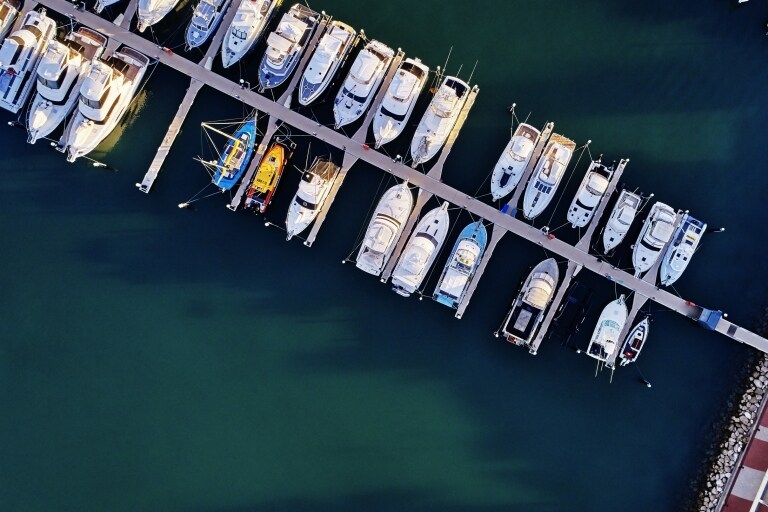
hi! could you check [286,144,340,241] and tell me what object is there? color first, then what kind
white boat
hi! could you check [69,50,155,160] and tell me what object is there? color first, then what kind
white boat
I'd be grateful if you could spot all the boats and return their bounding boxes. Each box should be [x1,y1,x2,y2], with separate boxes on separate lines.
[490,113,542,201]
[413,49,478,169]
[623,202,676,277]
[300,21,358,104]
[374,58,430,149]
[69,50,155,160]
[30,25,110,142]
[195,112,258,196]
[620,318,649,365]
[97,0,124,15]
[286,144,340,241]
[585,295,625,384]
[334,40,394,129]
[223,0,282,68]
[433,217,486,307]
[258,3,322,91]
[184,0,233,52]
[525,133,578,218]
[0,10,51,115]
[354,178,411,275]
[502,259,556,345]
[659,214,707,287]
[136,0,184,37]
[245,143,284,211]
[598,187,641,253]
[388,201,447,298]
[568,159,614,227]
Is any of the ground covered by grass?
No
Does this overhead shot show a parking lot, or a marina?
marina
